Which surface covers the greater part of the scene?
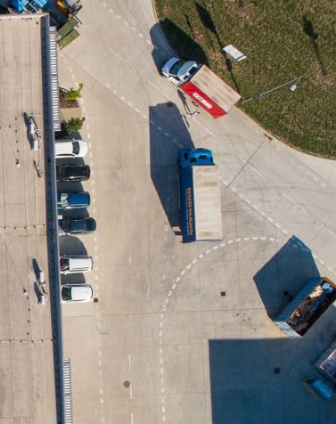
paved ground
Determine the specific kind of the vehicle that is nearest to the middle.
truck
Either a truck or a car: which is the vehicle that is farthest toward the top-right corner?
truck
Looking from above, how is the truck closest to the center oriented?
vertically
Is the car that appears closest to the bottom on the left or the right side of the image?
left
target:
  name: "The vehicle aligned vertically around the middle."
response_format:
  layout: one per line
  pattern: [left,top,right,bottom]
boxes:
[173,144,222,245]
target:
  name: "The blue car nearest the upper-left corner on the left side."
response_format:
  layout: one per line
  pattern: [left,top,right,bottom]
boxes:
[55,189,93,209]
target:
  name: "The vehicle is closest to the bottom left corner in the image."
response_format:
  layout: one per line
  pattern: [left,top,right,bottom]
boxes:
[60,282,99,303]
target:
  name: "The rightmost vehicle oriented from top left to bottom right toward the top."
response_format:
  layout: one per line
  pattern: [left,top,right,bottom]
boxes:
[154,52,241,119]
